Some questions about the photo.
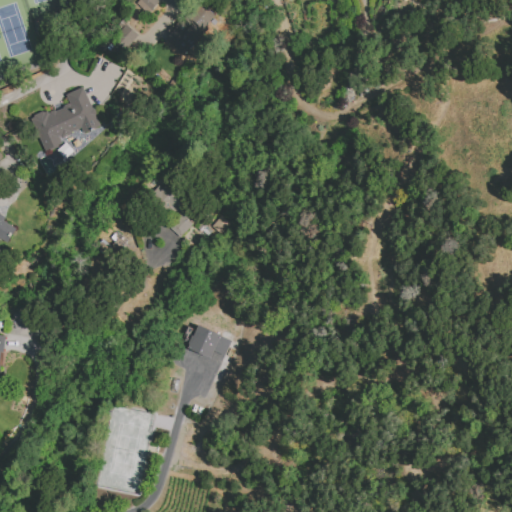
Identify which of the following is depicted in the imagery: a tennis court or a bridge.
tennis court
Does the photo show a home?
Yes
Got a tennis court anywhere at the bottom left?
Yes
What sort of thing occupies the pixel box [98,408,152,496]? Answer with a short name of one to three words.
tennis court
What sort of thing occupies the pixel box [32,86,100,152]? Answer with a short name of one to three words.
house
